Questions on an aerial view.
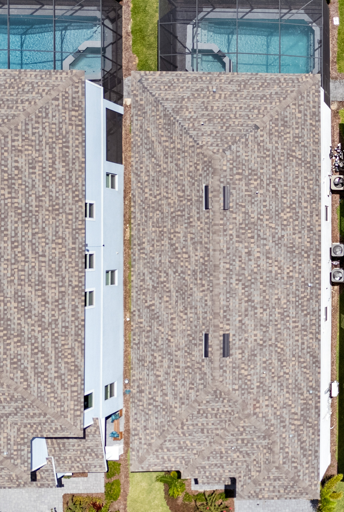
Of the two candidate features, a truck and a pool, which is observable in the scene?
pool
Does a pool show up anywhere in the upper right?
Yes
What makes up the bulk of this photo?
buildings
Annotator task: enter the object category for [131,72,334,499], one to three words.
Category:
house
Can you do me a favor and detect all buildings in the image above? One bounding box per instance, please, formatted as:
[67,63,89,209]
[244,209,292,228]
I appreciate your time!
[131,72,334,499]
[0,70,124,488]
